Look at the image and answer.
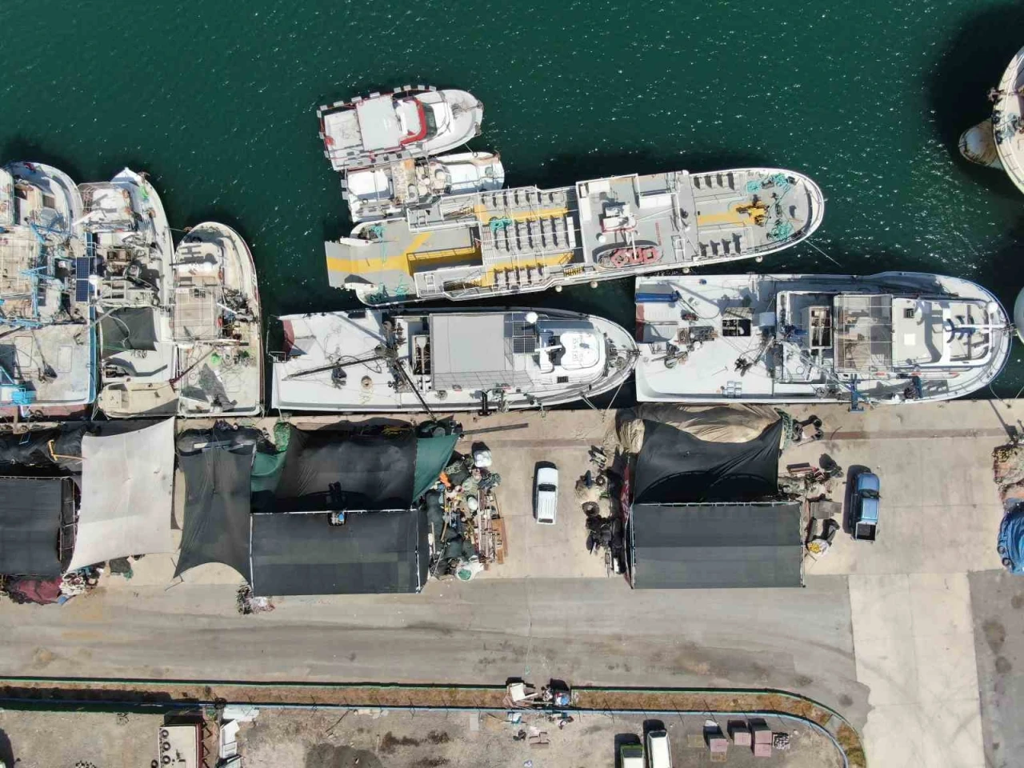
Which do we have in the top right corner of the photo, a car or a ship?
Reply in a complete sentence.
What appears in the top right corner of the photo is a ship.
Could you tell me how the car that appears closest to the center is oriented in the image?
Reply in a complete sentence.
The car that appears closest to the center is oriented vertically.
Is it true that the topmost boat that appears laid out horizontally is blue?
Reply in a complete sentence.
No, the topmost boat that appears laid out horizontally is white.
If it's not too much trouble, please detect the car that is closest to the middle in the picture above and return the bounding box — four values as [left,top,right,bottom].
[532,460,561,524]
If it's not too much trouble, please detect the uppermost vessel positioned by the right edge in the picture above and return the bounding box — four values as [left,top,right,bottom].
[958,47,1024,196]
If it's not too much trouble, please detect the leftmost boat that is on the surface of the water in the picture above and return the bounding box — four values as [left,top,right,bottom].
[0,160,115,420]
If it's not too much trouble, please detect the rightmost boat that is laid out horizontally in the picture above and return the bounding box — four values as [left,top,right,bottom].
[632,272,1014,411]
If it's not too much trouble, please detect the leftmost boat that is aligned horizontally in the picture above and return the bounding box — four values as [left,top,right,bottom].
[99,380,179,418]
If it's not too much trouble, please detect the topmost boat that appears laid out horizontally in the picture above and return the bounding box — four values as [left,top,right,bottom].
[317,85,484,175]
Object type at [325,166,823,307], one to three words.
ship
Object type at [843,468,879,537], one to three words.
truck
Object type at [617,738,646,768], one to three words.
truck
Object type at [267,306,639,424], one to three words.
boat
